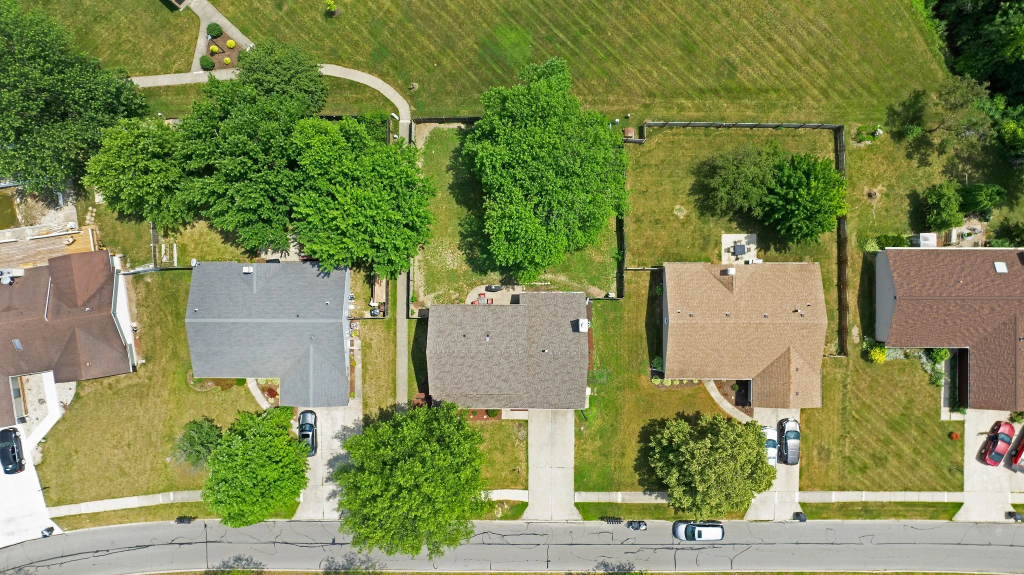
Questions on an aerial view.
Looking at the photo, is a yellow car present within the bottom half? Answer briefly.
No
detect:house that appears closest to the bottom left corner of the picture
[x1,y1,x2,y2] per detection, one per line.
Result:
[0,250,135,428]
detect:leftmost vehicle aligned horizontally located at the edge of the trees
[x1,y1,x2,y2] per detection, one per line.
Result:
[673,516,726,540]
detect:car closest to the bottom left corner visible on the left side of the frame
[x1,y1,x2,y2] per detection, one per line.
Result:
[0,427,20,477]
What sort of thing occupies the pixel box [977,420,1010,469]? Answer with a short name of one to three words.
car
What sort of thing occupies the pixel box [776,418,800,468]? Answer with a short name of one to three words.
car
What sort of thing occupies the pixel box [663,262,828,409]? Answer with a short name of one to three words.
house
